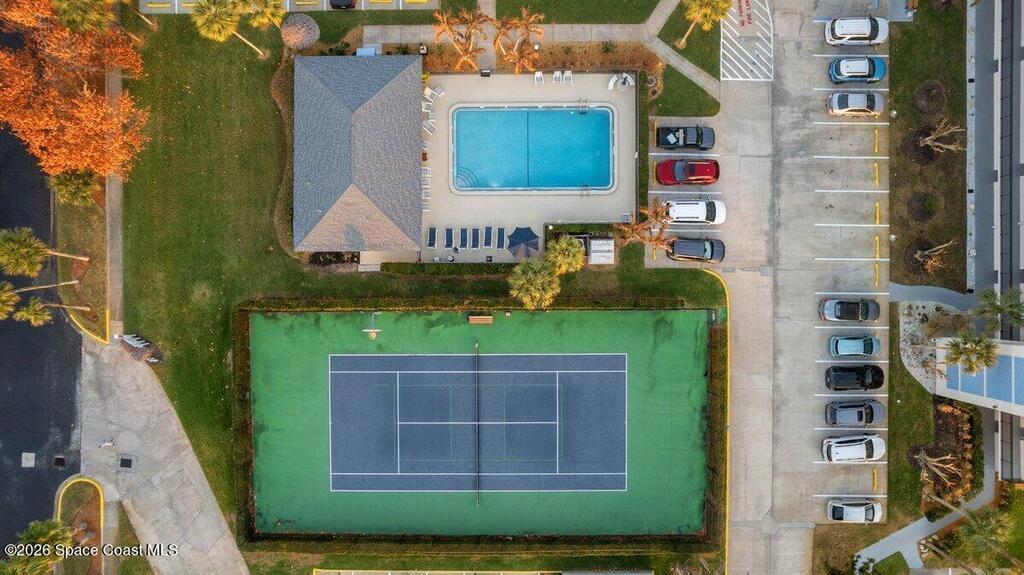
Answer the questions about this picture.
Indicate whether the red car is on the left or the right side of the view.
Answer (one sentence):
The red car sits on the right side.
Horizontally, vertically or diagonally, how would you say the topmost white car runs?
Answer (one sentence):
What the image shows is the topmost white car lying horizontally.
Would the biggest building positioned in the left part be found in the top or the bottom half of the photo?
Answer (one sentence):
The biggest building positioned in the left part is in the top half of the image.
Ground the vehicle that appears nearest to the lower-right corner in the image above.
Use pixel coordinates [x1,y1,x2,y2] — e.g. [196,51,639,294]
[826,494,881,522]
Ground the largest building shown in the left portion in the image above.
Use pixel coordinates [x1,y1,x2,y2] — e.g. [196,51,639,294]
[293,48,422,251]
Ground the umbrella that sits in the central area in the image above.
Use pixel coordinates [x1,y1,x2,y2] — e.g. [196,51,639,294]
[505,228,540,257]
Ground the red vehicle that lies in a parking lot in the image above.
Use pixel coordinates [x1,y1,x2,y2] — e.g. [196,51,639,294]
[657,155,719,185]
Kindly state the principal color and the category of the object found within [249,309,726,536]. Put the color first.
green tennis court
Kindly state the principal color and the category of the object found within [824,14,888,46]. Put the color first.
white car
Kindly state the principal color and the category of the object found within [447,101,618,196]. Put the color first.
blue swimming pool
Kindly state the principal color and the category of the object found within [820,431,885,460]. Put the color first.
white car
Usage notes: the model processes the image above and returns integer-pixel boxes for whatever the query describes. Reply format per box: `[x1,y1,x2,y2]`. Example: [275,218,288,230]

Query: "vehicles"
[819,296,879,324]
[824,14,888,46]
[666,235,724,264]
[826,494,881,522]
[827,90,885,118]
[656,121,716,149]
[824,397,885,425]
[820,431,885,460]
[829,333,880,359]
[825,363,884,392]
[657,155,719,185]
[663,196,726,226]
[828,55,886,85]
[332,0,356,8]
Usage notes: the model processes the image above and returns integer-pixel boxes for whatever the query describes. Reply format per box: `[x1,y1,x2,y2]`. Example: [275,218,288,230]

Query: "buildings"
[994,0,1024,491]
[590,239,616,264]
[293,48,422,251]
